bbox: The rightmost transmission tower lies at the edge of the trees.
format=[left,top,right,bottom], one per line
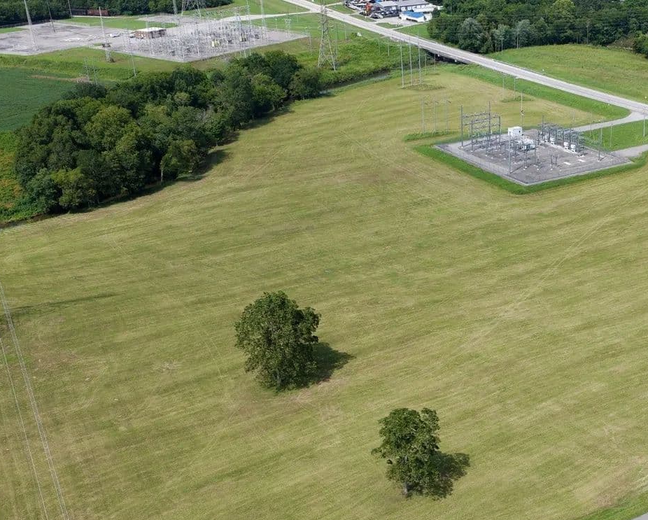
[308,0,338,68]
